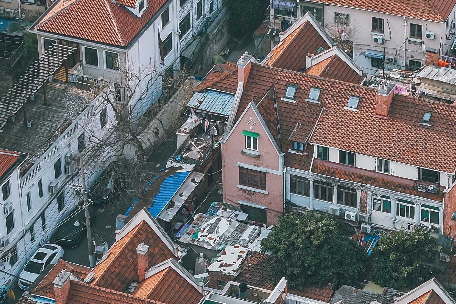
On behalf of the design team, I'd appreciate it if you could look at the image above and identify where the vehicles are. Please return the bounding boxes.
[17,244,68,292]
[52,209,99,254]
[83,169,130,211]
[0,279,12,300]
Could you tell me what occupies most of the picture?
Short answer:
buildings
